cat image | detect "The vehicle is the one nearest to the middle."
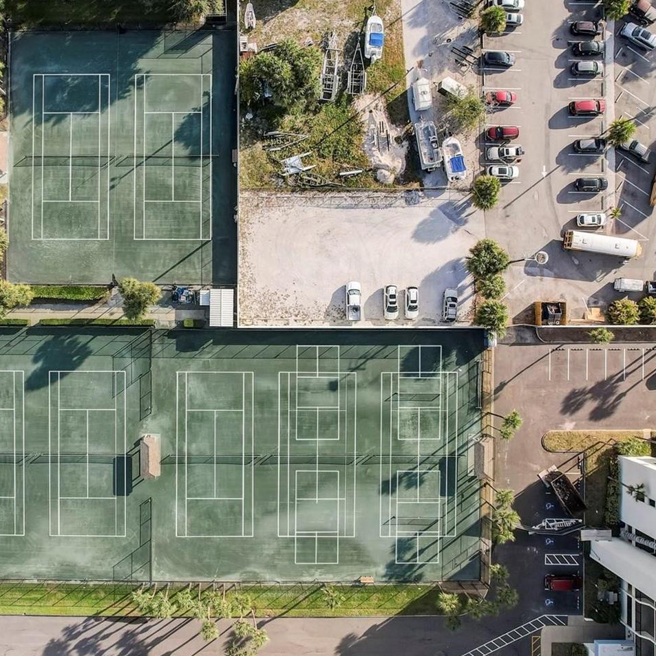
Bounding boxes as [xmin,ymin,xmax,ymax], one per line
[345,281,361,320]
